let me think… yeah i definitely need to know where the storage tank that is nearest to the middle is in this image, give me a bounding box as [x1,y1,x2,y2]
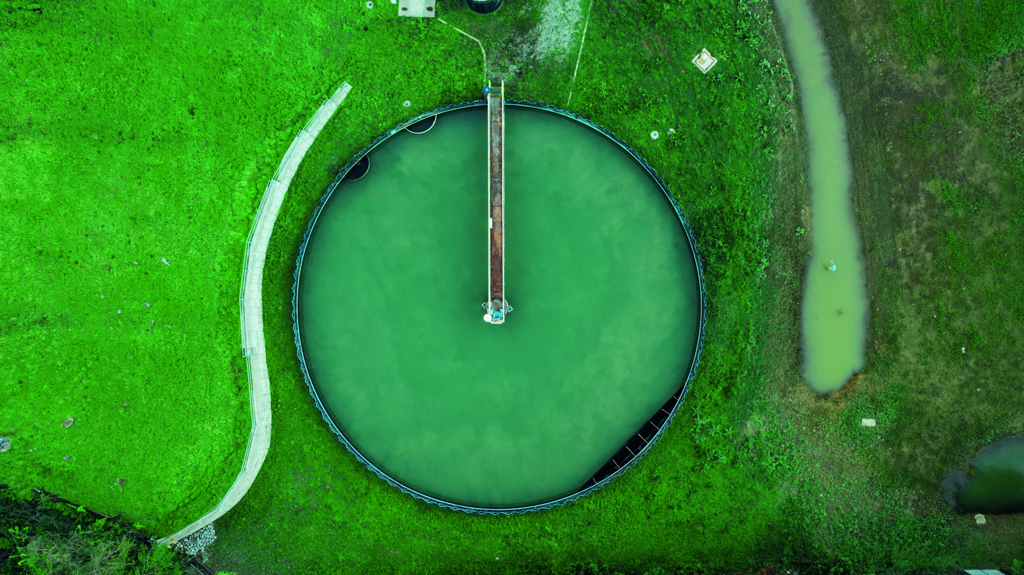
[290,97,708,516]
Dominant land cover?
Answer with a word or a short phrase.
grass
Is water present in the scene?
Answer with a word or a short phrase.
Yes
